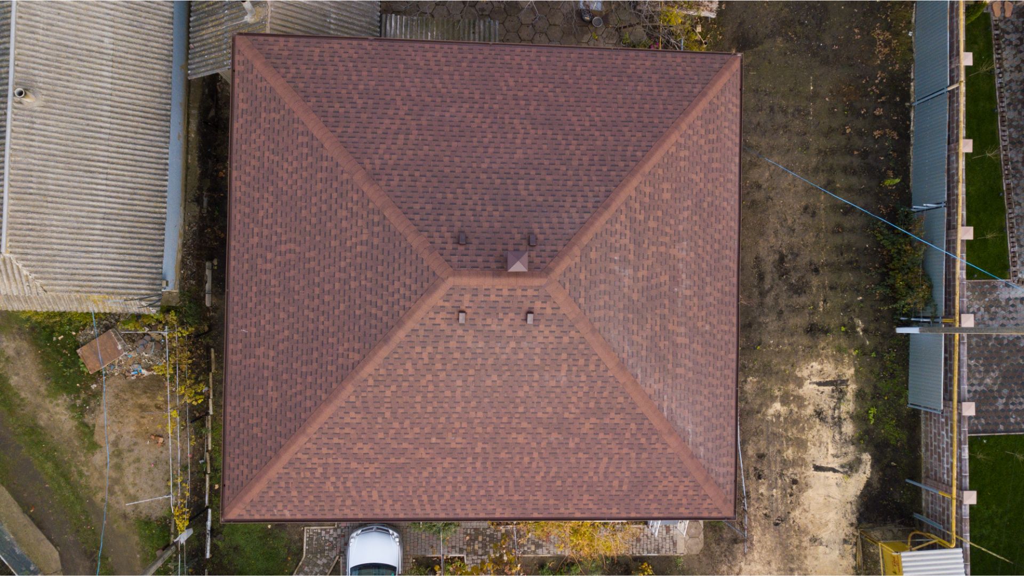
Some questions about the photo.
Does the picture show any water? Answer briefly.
No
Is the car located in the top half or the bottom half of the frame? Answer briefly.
bottom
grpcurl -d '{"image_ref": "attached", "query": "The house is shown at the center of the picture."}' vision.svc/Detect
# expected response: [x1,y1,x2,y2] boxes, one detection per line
[219,33,743,537]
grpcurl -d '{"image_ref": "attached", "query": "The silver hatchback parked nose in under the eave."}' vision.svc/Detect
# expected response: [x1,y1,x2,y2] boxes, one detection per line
[340,523,411,576]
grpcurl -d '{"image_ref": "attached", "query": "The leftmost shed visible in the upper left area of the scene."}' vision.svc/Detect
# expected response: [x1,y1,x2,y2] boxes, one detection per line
[0,0,190,314]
